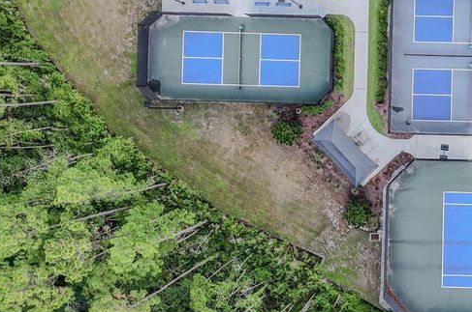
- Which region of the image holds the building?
right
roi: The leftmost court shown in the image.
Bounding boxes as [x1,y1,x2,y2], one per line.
[149,15,328,103]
